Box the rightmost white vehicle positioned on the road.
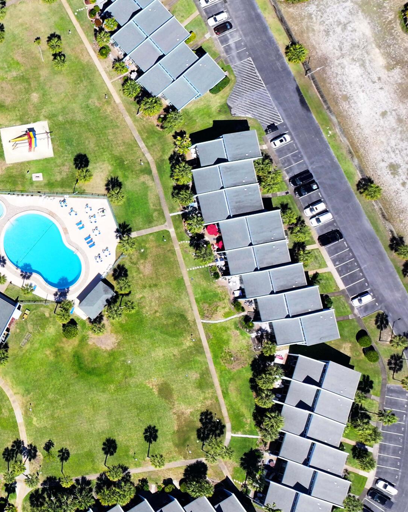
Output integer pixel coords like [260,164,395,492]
[375,480,397,497]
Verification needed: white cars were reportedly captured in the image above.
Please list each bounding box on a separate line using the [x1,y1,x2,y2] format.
[200,0,216,8]
[375,480,397,497]
[271,134,291,149]
[207,11,228,26]
[303,202,325,217]
[350,292,372,307]
[311,211,332,227]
